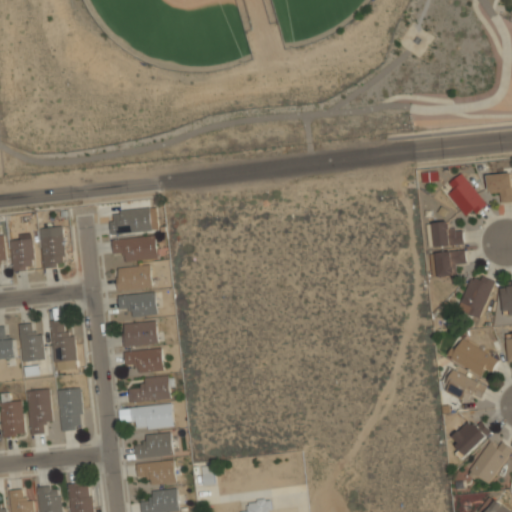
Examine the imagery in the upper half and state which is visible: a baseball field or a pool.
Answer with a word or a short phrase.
baseball field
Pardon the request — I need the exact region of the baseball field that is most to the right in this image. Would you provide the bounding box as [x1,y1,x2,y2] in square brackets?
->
[271,0,372,48]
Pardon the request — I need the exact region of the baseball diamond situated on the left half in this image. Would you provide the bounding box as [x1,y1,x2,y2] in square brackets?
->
[83,0,252,72]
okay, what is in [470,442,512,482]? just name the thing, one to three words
house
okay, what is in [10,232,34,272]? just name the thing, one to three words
house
